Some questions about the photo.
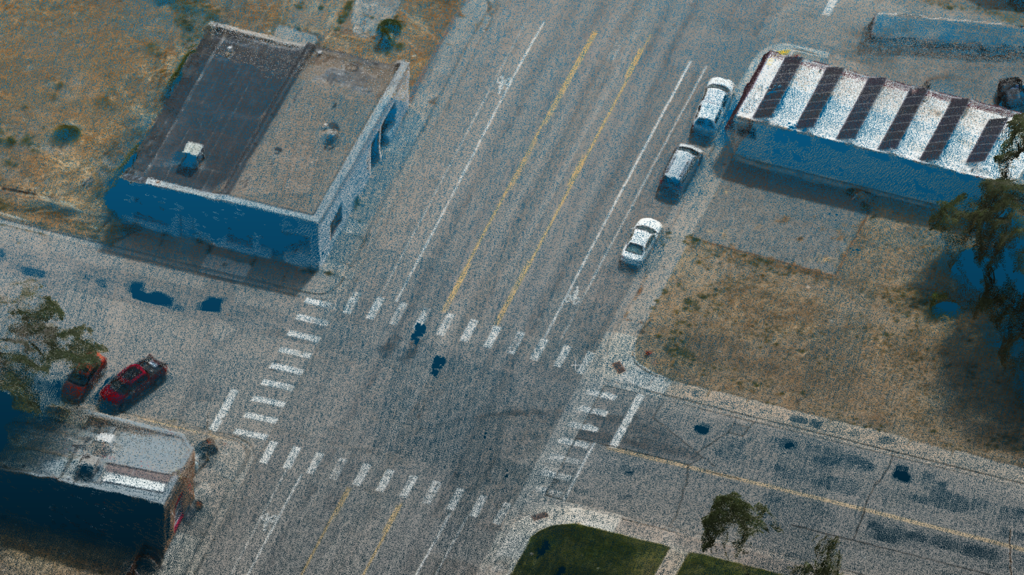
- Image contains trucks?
Yes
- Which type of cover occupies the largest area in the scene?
paved ground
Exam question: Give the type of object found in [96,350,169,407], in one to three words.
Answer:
truck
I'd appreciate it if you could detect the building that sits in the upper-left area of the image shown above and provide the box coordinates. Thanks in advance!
[121,21,408,274]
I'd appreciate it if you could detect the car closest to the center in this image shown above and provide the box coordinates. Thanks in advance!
[619,218,663,270]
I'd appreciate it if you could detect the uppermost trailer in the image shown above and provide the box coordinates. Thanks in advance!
[873,14,1024,65]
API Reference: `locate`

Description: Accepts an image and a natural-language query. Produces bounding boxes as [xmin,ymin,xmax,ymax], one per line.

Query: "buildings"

[0,392,198,566]
[729,48,1024,224]
[121,21,408,274]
